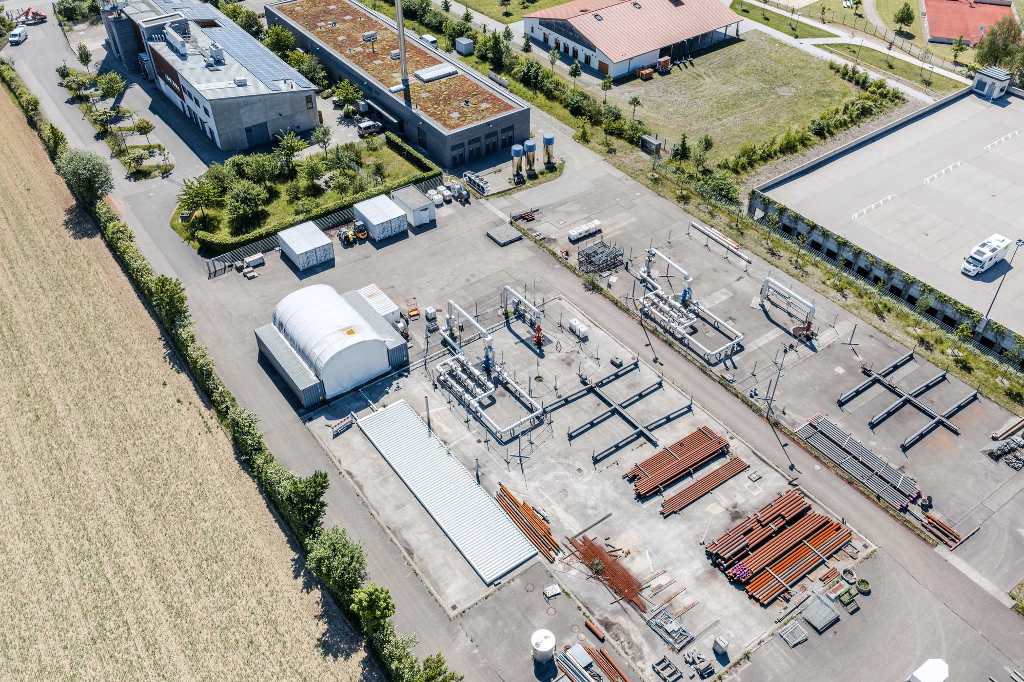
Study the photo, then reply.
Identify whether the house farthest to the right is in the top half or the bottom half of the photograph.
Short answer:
top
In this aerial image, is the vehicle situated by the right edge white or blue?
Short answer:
white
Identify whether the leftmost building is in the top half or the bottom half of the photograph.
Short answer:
top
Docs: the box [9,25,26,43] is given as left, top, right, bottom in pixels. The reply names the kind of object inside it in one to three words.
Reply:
vehicle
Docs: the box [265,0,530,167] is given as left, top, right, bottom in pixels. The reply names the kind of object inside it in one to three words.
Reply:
building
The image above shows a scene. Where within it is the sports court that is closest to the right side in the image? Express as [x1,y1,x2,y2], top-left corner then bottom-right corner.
[927,0,1023,45]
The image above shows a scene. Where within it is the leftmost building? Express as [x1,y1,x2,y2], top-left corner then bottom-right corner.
[84,0,321,151]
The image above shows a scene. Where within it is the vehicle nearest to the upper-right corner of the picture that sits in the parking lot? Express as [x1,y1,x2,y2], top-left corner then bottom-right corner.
[959,233,1014,276]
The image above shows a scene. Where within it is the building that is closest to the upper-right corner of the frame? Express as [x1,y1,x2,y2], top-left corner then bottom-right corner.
[973,66,1016,99]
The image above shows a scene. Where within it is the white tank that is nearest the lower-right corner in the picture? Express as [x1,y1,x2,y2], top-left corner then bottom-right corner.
[528,627,559,668]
